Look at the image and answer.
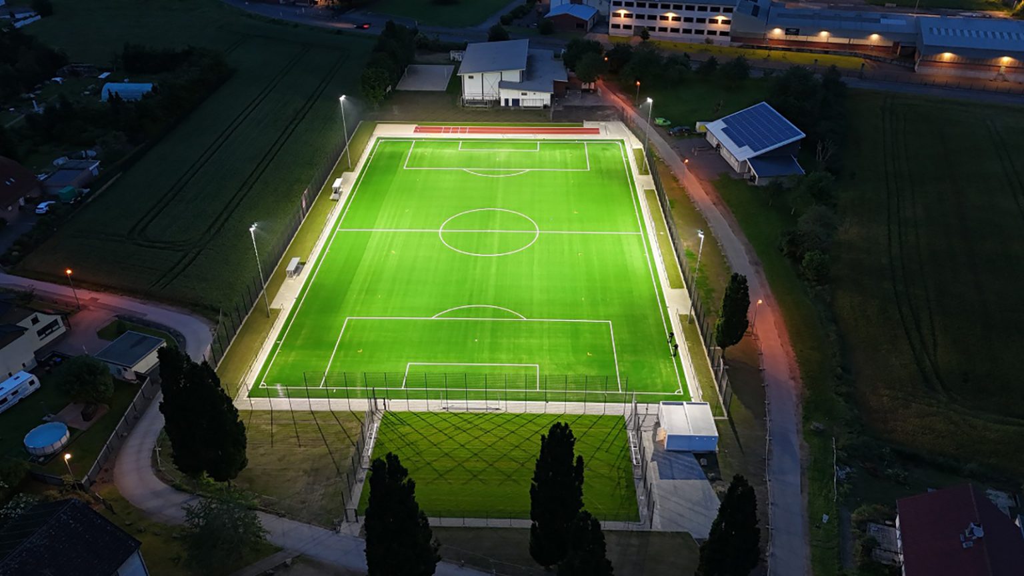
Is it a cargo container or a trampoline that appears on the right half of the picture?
cargo container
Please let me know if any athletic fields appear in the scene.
Yes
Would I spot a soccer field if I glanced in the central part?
Yes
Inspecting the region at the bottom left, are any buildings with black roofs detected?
Yes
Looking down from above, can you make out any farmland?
Yes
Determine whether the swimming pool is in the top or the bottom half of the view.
bottom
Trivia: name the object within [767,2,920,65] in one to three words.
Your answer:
building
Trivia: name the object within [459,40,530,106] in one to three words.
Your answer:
building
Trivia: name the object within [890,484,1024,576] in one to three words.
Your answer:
house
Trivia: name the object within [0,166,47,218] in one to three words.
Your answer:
house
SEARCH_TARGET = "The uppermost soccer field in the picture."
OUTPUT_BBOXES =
[250,136,692,403]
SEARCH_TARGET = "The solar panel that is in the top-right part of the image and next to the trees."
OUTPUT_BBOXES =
[722,103,802,153]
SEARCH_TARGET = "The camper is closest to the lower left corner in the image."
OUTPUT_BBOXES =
[0,372,37,411]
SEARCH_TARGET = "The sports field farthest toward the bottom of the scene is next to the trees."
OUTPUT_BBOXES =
[357,411,641,520]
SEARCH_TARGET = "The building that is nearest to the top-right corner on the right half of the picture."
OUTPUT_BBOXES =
[915,16,1024,81]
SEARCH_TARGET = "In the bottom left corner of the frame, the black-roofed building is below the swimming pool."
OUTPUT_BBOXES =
[0,499,141,576]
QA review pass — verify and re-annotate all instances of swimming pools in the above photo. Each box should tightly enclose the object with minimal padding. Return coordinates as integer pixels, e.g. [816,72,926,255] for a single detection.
[23,421,73,457]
